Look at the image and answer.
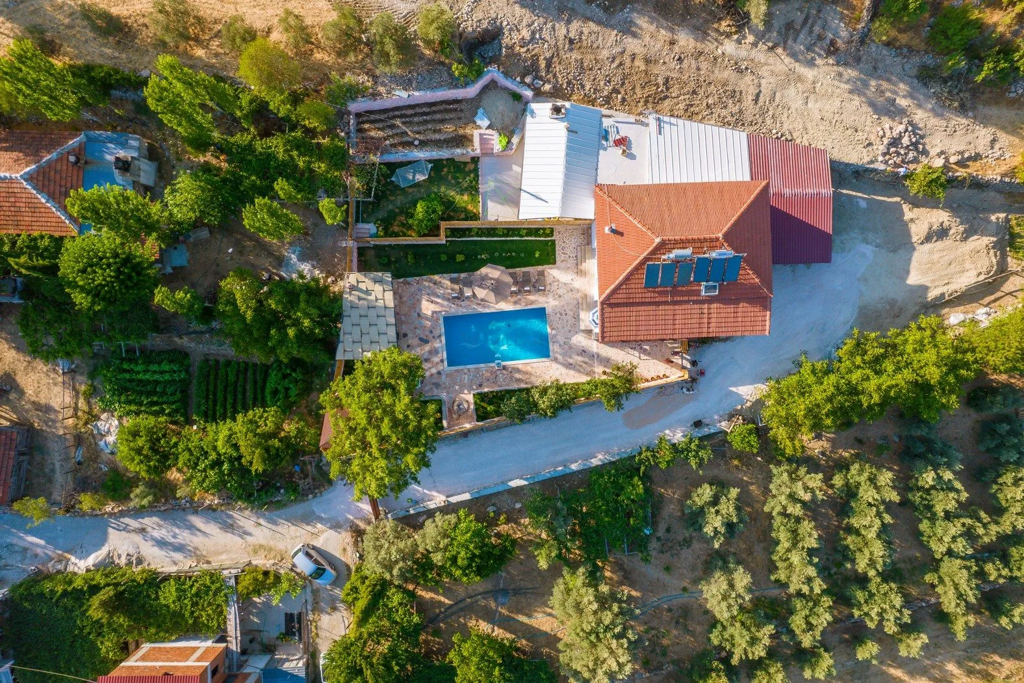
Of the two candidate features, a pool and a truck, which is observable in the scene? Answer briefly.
pool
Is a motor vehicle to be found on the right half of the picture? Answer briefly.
No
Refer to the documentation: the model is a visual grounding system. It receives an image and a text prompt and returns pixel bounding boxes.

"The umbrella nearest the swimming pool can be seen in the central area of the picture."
[472,263,513,304]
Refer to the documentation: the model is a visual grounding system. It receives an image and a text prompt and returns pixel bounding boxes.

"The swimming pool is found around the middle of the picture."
[440,304,553,371]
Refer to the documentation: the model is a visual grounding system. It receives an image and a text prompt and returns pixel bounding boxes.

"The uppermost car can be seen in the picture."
[289,543,337,585]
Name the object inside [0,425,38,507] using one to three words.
shed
